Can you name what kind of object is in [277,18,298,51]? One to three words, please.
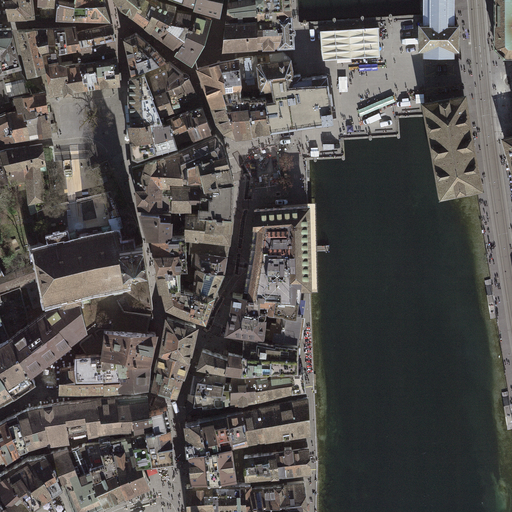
house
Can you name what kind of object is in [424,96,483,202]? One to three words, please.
building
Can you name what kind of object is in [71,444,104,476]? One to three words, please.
house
